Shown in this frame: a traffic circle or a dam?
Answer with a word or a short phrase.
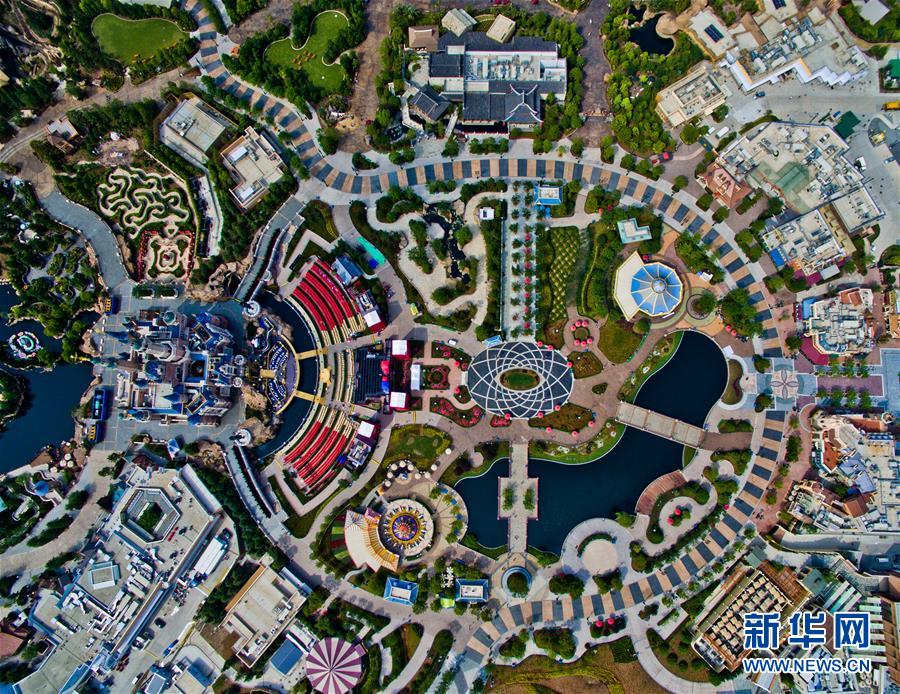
traffic circle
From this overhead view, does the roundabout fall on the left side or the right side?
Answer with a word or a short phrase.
right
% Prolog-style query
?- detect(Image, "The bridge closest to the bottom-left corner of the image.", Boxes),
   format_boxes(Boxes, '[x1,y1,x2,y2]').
[223,445,287,528]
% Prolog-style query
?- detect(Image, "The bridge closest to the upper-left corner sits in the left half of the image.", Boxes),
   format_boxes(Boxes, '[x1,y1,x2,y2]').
[232,196,307,300]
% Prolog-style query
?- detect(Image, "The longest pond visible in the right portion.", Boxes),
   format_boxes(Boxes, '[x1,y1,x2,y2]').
[459,335,728,554]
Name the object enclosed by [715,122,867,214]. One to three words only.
building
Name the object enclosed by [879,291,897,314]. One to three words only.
building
